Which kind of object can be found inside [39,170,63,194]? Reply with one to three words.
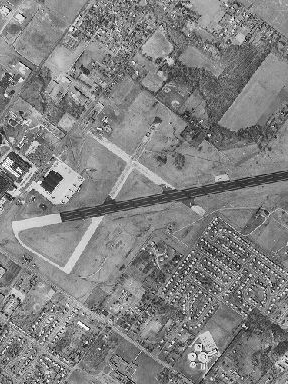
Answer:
hangar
